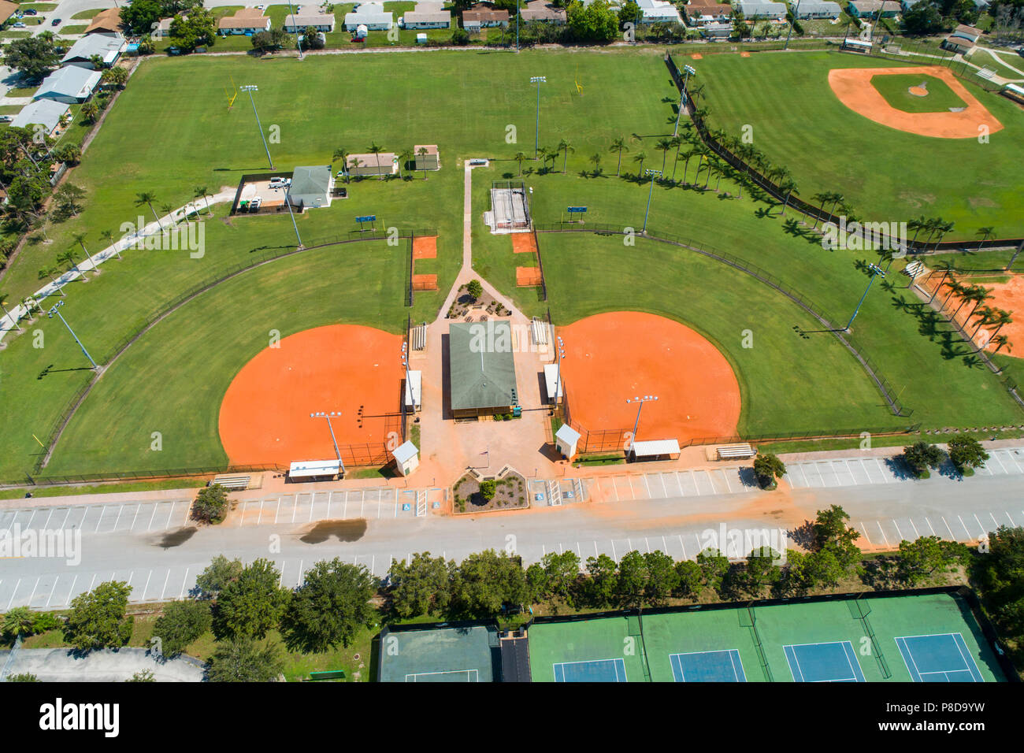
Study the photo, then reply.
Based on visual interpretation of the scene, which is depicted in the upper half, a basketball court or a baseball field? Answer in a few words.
baseball field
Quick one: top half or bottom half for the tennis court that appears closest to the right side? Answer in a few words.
bottom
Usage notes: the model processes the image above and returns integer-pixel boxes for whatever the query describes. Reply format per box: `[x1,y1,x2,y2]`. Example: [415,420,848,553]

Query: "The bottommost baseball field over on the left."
[36,236,412,483]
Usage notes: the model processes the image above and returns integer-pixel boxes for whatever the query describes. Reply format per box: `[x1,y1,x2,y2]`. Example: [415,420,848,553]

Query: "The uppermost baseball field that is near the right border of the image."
[669,51,1024,238]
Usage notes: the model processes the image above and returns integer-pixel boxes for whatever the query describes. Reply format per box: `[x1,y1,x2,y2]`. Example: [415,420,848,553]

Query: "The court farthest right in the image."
[856,591,1024,753]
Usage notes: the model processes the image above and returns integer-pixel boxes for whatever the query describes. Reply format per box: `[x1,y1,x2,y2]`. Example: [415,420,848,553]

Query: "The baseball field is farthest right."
[927,270,1024,363]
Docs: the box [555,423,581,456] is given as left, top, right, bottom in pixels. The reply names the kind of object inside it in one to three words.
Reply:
shed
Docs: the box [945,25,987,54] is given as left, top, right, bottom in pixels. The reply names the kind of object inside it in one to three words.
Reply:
building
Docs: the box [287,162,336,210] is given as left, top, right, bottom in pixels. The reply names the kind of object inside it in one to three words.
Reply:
building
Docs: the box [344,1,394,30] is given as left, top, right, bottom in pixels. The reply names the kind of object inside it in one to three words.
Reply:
house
